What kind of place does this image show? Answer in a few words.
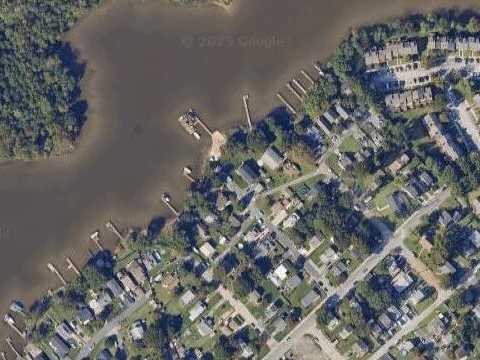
residential area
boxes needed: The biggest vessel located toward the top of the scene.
[178,116,195,137]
